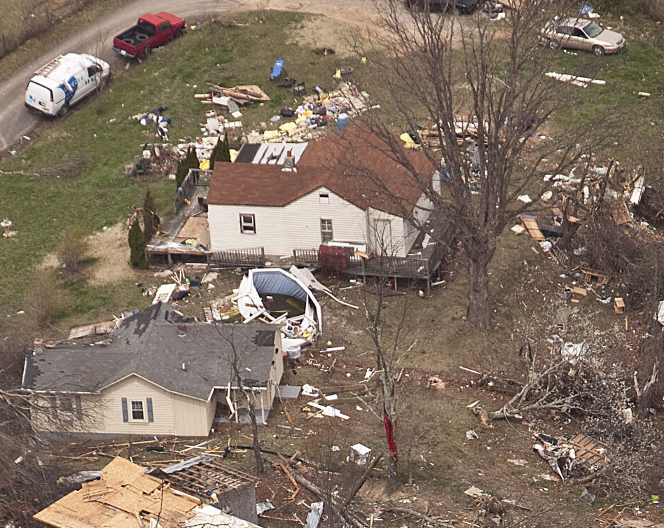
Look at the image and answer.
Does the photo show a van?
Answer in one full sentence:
Yes, there is a van in the image.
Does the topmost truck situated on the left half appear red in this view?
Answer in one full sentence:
Yes, the topmost truck situated on the left half appears red.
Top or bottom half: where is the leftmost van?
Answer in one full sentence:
The top half of the photo is where the leftmost van is.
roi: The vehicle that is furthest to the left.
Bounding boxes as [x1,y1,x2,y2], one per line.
[25,58,109,117]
